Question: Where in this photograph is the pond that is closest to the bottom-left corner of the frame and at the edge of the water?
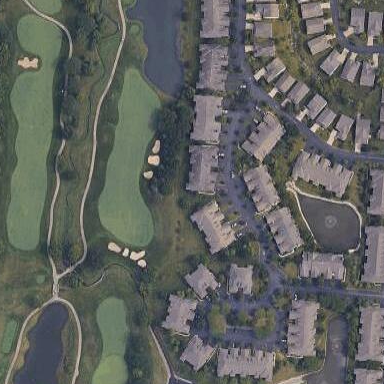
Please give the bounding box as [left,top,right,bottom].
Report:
[14,303,68,384]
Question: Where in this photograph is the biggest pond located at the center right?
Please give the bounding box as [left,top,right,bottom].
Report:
[298,192,360,252]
